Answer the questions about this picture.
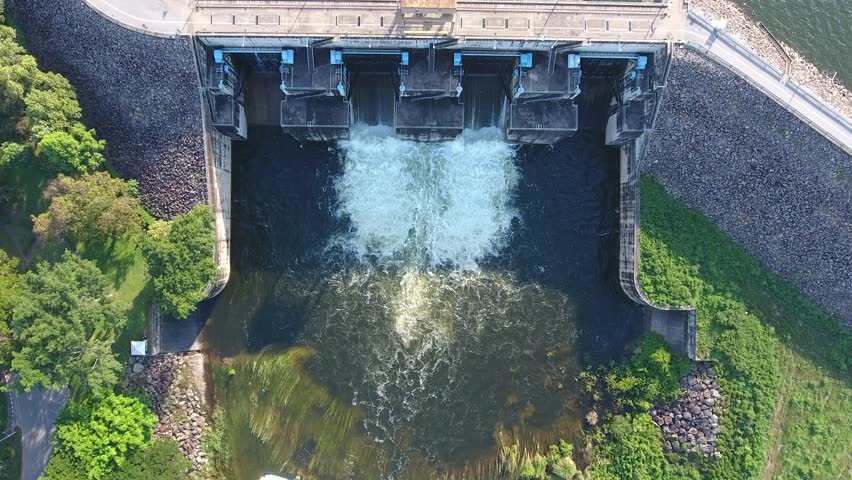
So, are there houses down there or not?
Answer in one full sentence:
No, this view has no house in it.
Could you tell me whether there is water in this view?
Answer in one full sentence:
Yes, water shows up in the scene.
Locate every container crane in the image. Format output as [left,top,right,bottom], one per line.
[398,0,458,32]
